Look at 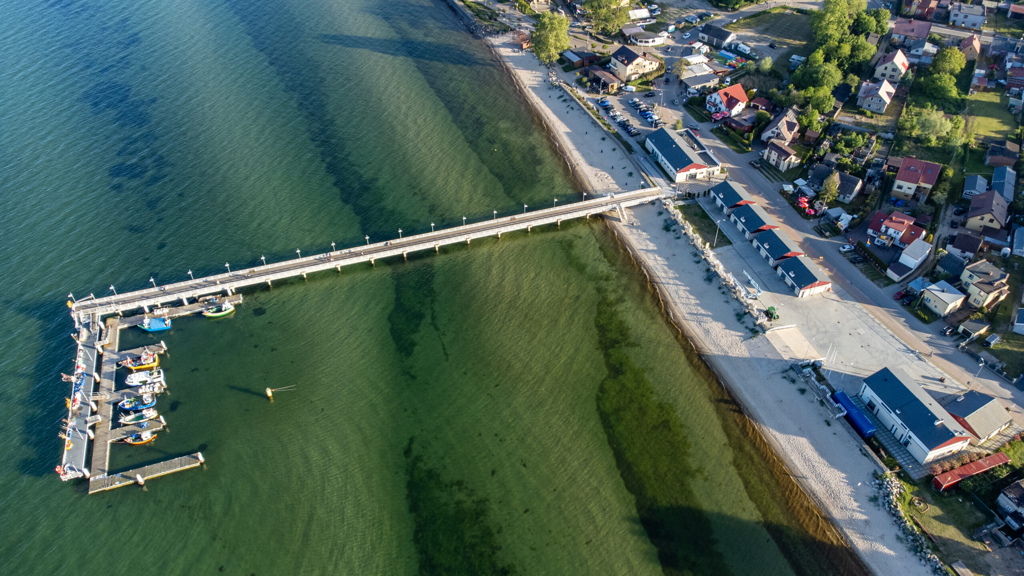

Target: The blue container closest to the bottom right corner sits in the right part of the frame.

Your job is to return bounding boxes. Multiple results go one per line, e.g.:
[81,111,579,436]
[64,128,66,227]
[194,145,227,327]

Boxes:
[847,410,876,438]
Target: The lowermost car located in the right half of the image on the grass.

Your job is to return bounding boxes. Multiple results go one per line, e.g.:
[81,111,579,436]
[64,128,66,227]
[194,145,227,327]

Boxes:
[983,333,1001,346]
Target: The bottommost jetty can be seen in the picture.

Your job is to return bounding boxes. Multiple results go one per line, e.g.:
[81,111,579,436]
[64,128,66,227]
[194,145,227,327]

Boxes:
[89,452,200,495]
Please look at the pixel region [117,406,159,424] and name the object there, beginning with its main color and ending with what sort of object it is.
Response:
white boat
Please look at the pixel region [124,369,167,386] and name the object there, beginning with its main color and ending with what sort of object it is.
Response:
white boat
